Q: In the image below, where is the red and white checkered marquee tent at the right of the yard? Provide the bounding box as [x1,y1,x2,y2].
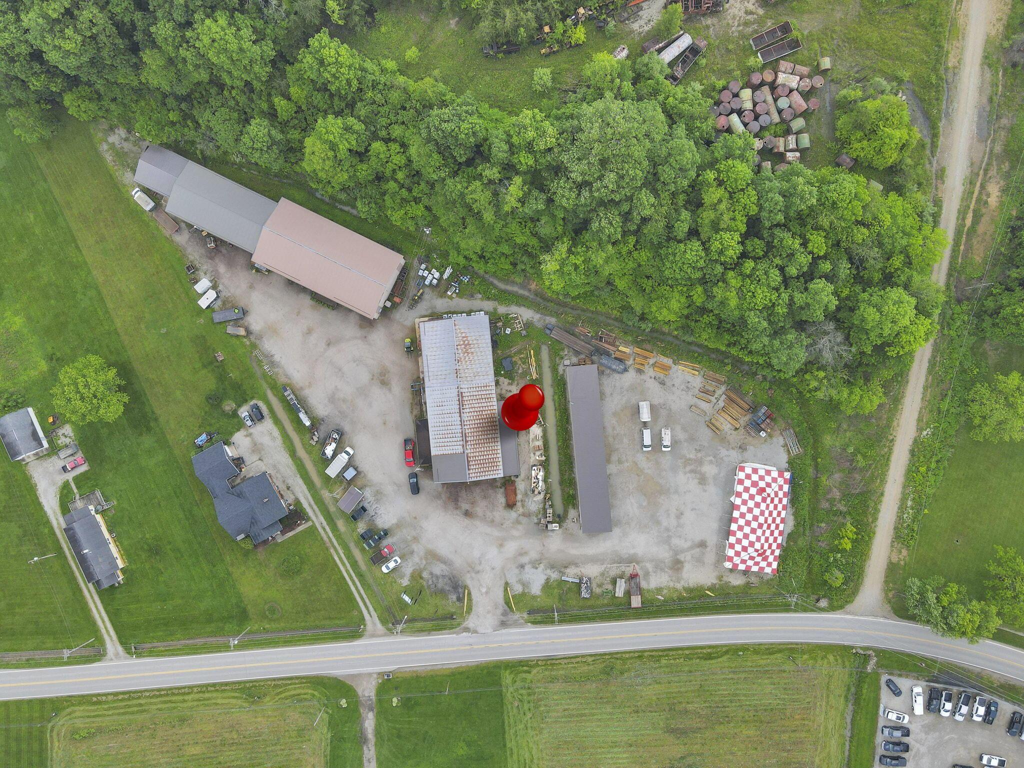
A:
[716,458,790,578]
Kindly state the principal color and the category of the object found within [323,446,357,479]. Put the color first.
white truck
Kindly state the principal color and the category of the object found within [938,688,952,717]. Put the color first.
white vehicle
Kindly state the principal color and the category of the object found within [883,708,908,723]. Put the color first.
white car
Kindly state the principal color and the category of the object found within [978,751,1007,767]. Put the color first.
white vehicle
